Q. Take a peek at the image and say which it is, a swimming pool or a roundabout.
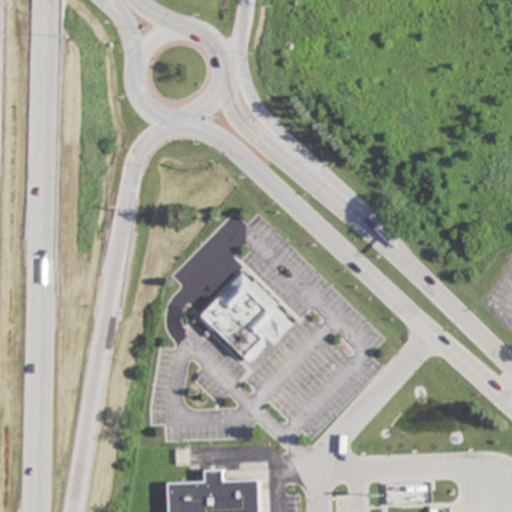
roundabout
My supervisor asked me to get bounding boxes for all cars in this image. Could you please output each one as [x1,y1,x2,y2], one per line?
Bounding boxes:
[190,34,202,43]
[28,362,34,374]
[34,186,40,198]
[438,334,450,346]
[347,262,360,274]
[278,264,292,278]
[211,56,218,69]
[424,274,436,286]
[26,466,32,476]
[488,378,502,390]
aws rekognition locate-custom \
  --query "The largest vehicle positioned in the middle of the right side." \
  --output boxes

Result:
[370,226,392,250]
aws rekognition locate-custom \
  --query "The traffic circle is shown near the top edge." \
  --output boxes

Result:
[124,20,236,128]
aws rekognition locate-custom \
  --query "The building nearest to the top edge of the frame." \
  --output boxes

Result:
[200,272,293,362]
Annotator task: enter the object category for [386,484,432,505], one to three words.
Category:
building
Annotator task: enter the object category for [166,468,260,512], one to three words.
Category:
building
